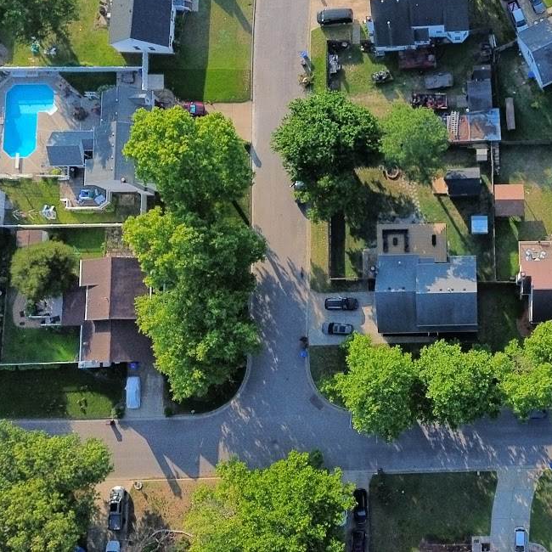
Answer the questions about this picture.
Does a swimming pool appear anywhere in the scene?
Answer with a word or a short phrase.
Yes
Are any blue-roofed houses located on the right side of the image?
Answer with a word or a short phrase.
Yes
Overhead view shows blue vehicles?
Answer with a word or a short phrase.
Yes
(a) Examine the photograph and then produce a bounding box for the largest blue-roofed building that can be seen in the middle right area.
[374,223,478,334]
